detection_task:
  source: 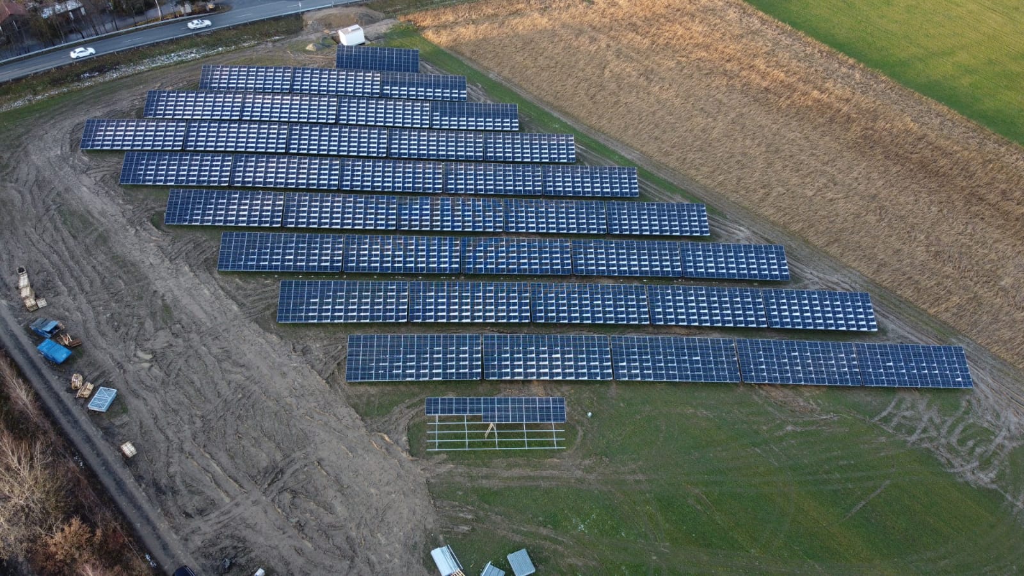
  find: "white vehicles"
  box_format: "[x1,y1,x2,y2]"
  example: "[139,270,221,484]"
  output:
[188,20,210,30]
[69,48,95,59]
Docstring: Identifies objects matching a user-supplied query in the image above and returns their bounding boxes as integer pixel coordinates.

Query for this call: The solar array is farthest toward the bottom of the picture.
[426,398,567,449]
